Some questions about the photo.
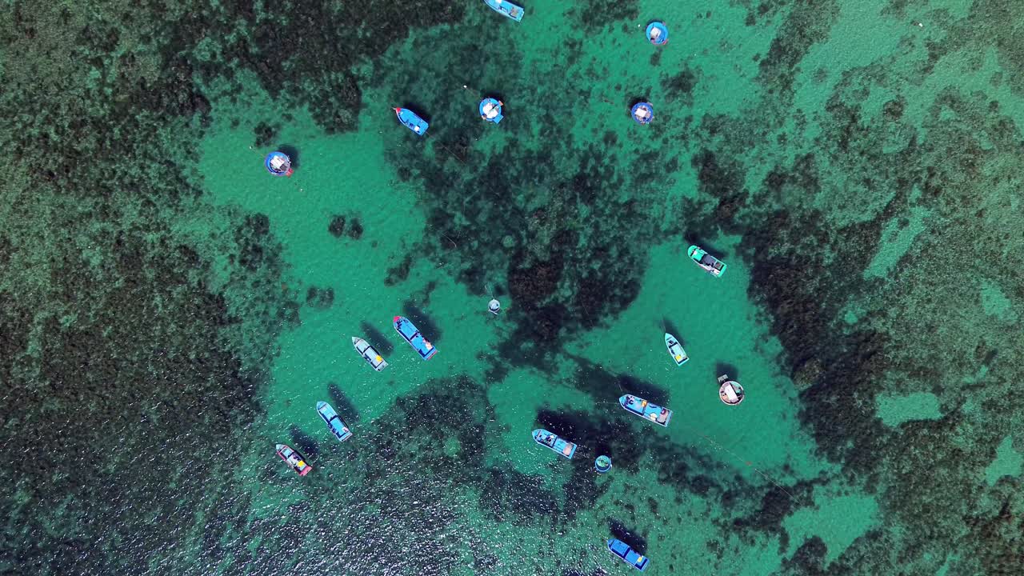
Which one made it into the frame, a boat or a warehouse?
boat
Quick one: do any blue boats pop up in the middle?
Yes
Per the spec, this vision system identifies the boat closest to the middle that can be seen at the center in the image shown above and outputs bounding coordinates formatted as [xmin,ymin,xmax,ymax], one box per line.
[488,299,500,312]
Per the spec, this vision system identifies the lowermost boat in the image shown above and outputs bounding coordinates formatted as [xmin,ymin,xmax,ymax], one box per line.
[607,537,650,572]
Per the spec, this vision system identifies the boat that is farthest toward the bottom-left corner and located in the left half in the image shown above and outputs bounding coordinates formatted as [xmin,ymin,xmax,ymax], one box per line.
[275,444,312,478]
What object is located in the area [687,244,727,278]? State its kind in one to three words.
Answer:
boat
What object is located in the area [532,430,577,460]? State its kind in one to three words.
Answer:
boat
